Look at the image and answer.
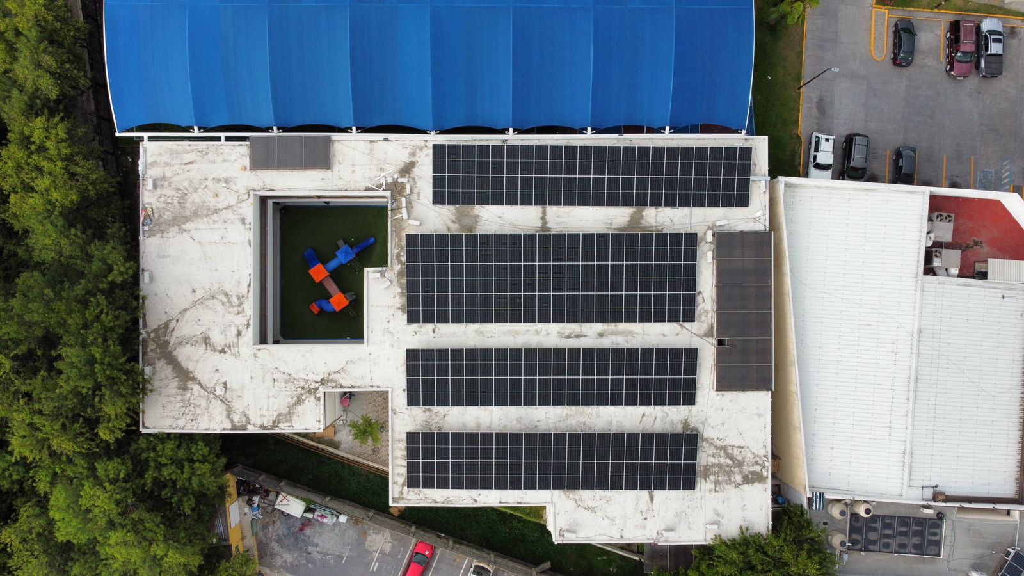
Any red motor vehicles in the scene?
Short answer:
Yes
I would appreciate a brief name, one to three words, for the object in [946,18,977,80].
car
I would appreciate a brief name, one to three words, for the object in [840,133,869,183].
car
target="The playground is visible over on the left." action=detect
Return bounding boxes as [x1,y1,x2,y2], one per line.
[303,236,375,321]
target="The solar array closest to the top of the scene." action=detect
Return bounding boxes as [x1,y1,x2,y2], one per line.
[432,145,752,207]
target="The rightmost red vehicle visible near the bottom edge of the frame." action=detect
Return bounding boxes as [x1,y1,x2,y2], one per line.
[403,539,434,576]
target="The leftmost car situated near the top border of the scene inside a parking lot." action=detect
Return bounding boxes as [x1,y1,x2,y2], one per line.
[894,19,920,68]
